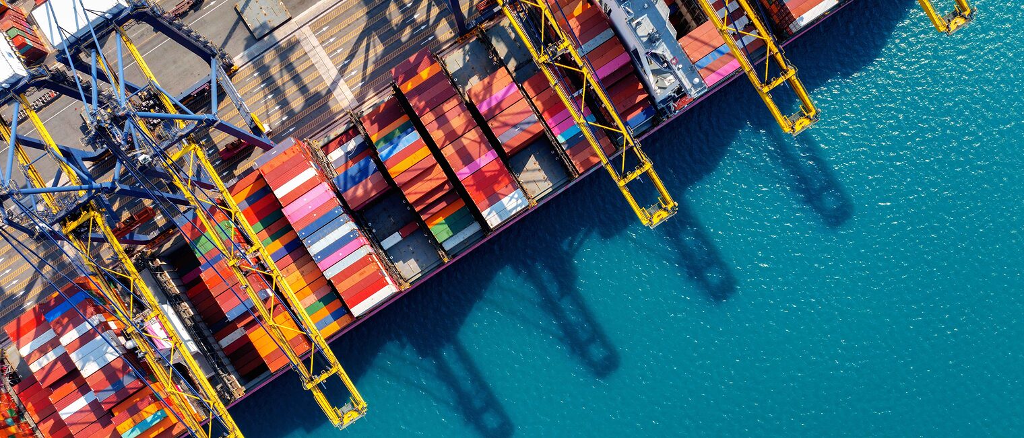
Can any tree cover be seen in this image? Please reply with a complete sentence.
No, there is no tree cover in the image.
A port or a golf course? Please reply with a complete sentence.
It's a port.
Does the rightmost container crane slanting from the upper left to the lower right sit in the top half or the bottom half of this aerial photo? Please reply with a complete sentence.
The rightmost container crane slanting from the upper left to the lower right is in the top half of the image.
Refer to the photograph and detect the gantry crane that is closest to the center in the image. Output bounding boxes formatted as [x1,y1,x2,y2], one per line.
[448,0,682,232]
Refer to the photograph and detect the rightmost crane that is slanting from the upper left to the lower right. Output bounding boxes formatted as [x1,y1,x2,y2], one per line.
[696,0,823,140]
